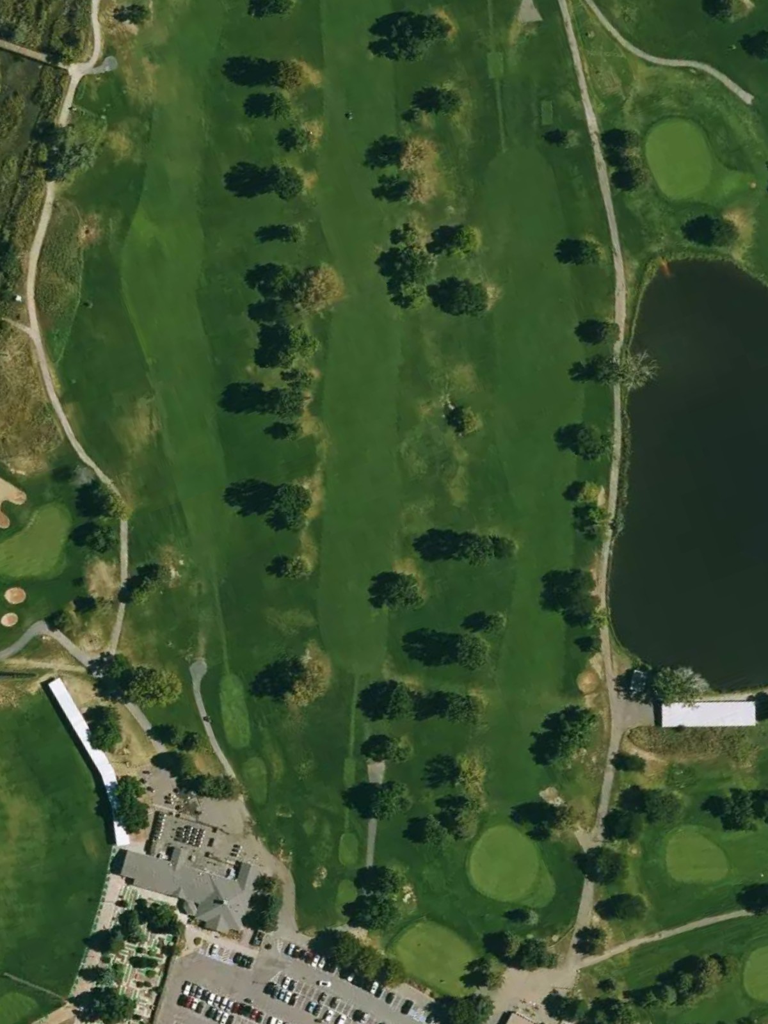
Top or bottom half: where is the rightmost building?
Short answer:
bottom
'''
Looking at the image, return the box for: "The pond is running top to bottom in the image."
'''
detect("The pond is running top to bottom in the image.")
[609,261,768,692]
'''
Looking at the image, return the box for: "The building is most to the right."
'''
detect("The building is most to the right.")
[662,701,757,727]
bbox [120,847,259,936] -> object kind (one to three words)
building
